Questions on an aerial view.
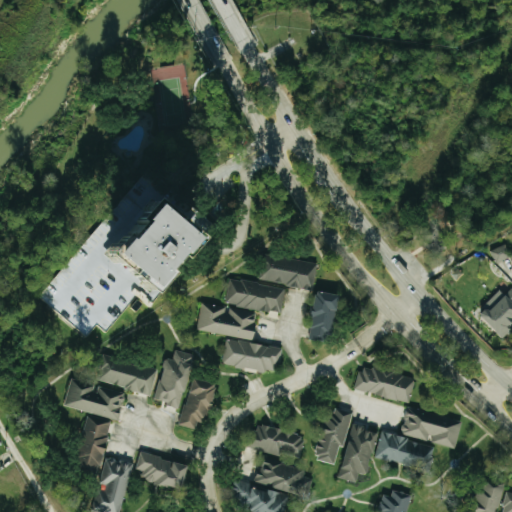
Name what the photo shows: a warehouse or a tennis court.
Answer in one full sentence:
Visible in the photo is a tennis court.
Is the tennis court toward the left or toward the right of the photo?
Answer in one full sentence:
It is on the left.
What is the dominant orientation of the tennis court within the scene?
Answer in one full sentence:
In this picture, the tennis court lies from top to bottom.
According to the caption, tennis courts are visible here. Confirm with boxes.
[150,65,190,135]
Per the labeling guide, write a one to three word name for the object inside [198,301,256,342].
house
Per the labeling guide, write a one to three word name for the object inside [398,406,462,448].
house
